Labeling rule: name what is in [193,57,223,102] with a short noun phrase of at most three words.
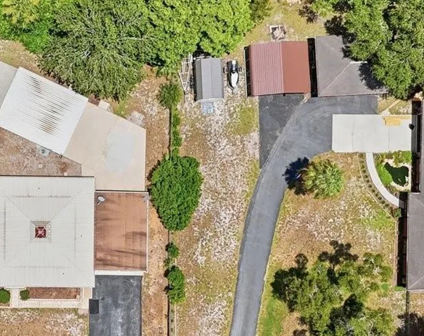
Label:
shed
